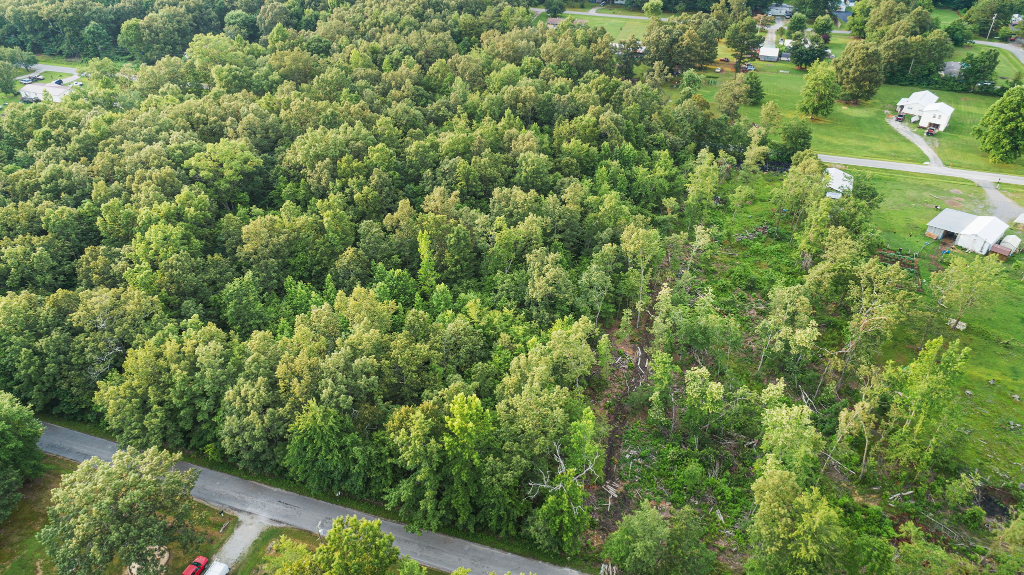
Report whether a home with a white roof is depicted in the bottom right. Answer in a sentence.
No, the scene shows no home with a white roof in the bottom right.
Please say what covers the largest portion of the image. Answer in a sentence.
The bulk of the photo consists of trees.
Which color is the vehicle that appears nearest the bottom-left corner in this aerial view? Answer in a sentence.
The vehicle that appears nearest the bottom-left corner is red.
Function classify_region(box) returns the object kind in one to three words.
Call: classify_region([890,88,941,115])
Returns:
house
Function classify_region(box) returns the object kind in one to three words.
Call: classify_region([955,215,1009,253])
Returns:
barn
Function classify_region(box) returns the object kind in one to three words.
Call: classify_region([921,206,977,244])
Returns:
shed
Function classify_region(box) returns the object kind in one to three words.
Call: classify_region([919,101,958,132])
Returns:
building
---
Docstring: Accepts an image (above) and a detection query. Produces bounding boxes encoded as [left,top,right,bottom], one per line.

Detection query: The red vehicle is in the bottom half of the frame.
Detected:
[176,555,211,575]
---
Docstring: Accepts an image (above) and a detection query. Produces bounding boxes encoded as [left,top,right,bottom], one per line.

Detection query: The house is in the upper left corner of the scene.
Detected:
[12,83,76,104]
